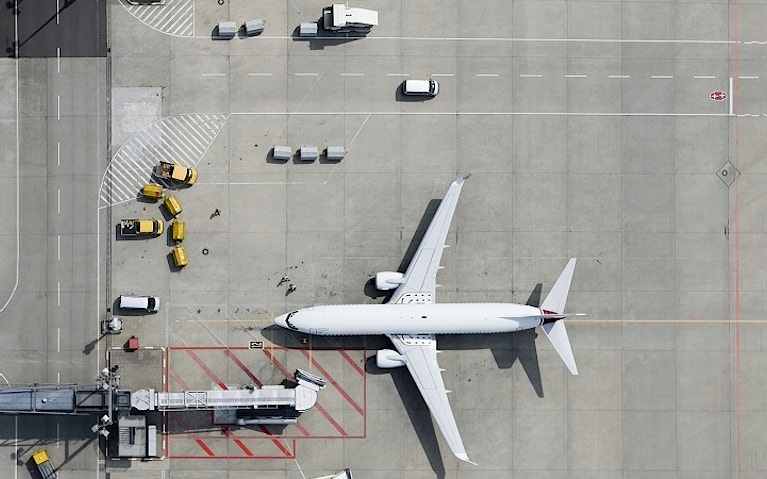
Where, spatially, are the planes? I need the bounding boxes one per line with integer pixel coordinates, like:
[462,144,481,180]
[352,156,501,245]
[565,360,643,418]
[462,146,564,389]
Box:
[274,174,587,463]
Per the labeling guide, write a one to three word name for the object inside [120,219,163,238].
vehicle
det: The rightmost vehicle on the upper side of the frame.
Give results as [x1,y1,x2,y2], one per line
[401,79,440,97]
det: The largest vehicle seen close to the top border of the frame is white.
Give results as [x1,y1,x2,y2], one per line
[326,4,381,34]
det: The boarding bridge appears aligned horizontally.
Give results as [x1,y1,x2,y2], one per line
[0,366,326,434]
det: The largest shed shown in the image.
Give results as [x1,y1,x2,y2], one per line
[118,412,147,457]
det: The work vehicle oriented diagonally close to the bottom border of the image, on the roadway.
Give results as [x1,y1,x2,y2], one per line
[31,448,61,479]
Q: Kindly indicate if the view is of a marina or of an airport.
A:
airport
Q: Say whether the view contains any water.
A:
No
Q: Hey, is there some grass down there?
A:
No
